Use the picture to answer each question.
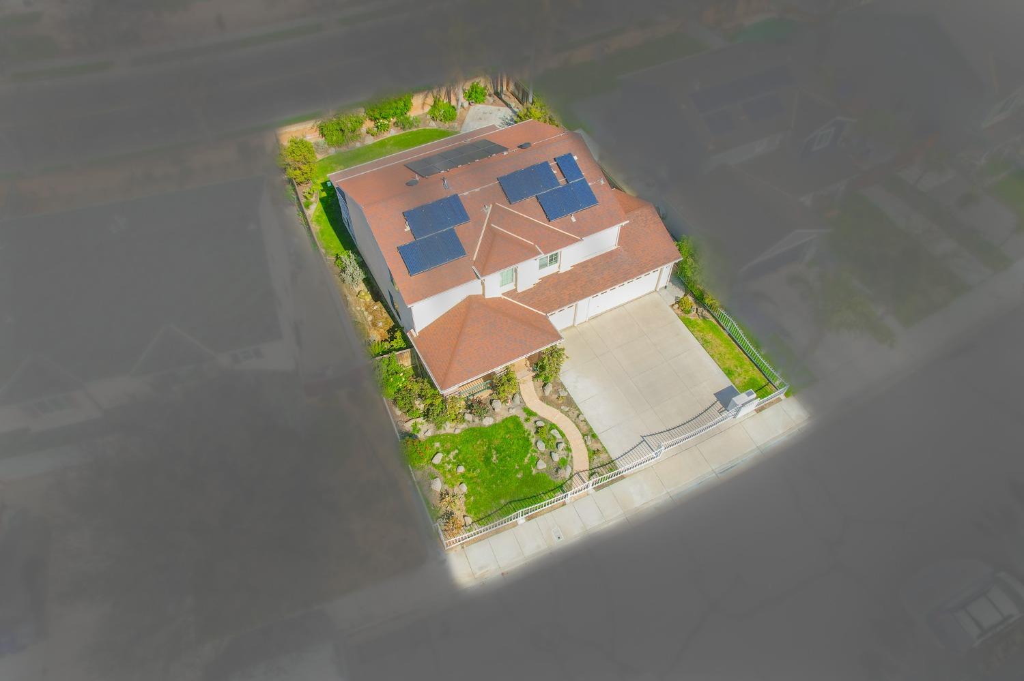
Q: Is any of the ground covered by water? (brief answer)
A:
No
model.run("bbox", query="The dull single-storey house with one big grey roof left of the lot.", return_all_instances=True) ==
[0,176,290,458]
